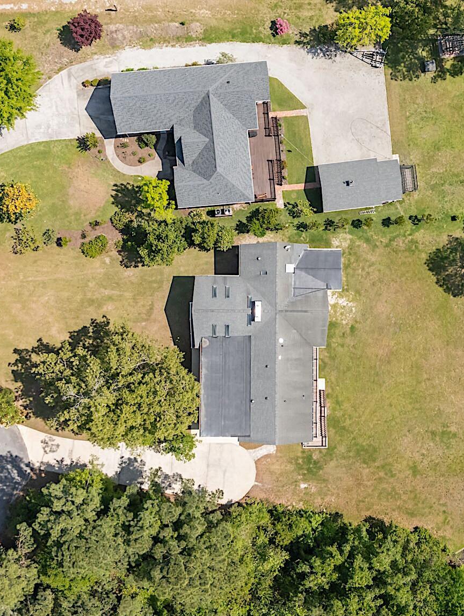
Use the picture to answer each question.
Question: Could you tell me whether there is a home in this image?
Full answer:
Yes, there is a home in the image.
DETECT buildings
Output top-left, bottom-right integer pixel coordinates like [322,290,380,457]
[423,59,436,74]
[190,244,343,449]
[318,158,403,212]
[111,60,282,209]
